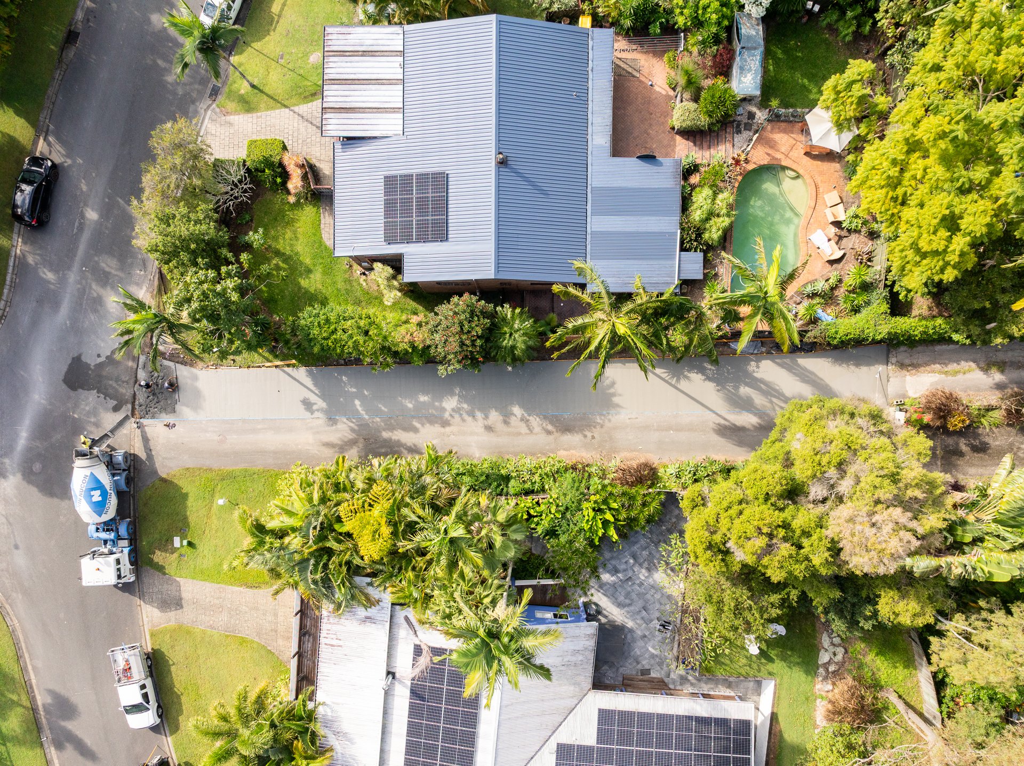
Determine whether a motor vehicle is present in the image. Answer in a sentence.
Yes, the picture does show a motor vehicle.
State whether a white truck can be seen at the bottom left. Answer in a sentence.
Yes, the scene does show a white truck at the bottom left.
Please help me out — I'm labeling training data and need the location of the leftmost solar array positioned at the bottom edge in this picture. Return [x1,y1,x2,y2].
[403,644,481,766]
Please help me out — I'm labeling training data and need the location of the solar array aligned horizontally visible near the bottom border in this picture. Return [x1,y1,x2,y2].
[552,711,750,766]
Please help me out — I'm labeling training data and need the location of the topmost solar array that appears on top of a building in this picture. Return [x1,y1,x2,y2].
[381,170,448,241]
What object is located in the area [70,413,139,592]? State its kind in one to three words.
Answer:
truck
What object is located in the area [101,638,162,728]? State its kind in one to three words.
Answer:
truck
